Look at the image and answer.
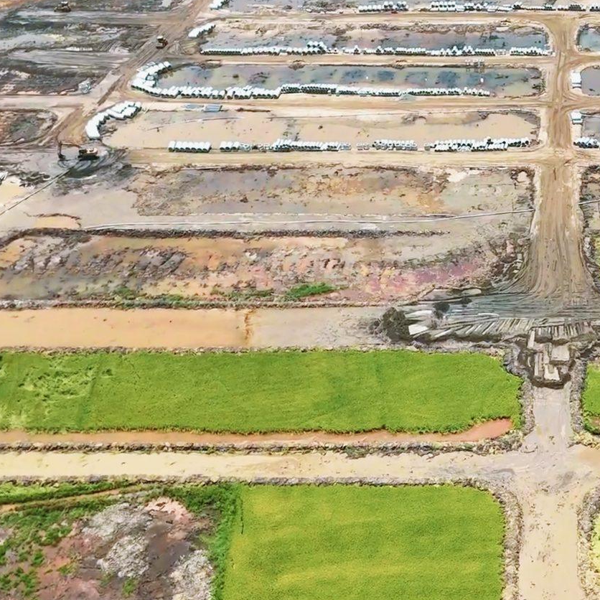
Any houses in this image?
No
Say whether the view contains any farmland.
Yes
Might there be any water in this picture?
Yes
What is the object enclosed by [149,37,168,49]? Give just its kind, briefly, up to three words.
vehicle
